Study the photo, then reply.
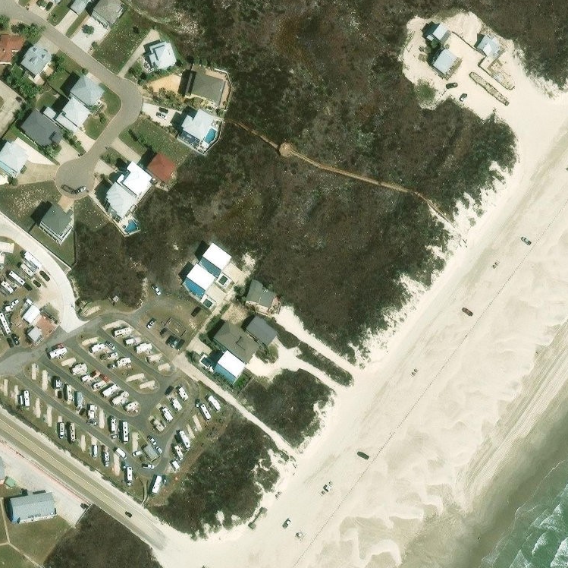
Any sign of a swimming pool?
Yes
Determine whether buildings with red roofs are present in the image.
Yes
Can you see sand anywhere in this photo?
Yes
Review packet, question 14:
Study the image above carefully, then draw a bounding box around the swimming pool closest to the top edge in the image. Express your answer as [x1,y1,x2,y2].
[198,128,218,151]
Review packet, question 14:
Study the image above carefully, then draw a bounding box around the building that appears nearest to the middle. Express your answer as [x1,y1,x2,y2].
[243,279,276,312]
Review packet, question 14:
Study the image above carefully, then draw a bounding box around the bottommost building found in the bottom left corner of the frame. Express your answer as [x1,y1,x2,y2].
[8,490,56,525]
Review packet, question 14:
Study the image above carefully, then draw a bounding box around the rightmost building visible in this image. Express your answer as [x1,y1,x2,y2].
[478,33,503,59]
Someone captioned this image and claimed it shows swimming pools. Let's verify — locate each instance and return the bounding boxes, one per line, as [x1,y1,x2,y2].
[198,128,218,151]
[119,215,141,236]
[200,295,216,309]
[217,272,232,288]
[200,355,213,369]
